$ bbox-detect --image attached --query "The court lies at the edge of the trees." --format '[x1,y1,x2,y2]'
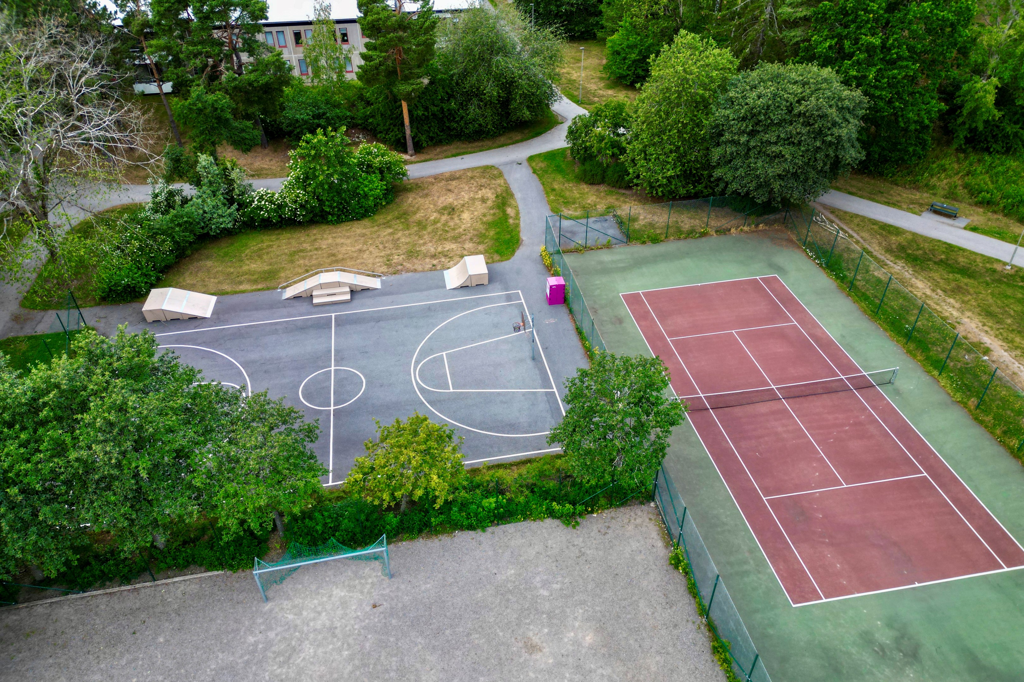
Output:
[621,276,1024,605]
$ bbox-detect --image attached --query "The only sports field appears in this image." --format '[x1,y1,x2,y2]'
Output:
[0,508,724,682]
